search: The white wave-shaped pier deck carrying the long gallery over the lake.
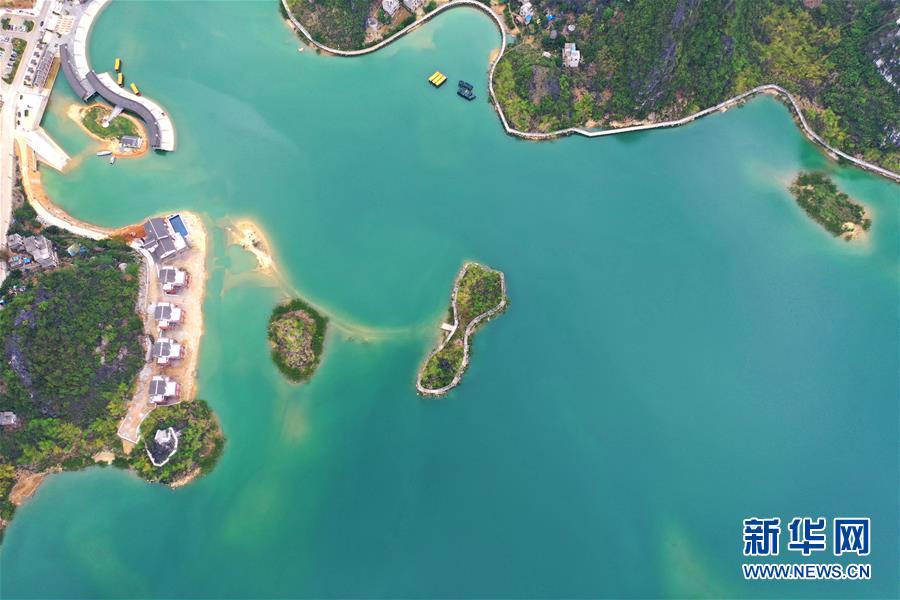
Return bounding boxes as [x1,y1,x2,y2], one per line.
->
[95,73,176,150]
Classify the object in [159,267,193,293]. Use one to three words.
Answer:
house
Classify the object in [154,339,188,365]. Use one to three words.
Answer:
house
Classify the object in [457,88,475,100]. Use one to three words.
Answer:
boat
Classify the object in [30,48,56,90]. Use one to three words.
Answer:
building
